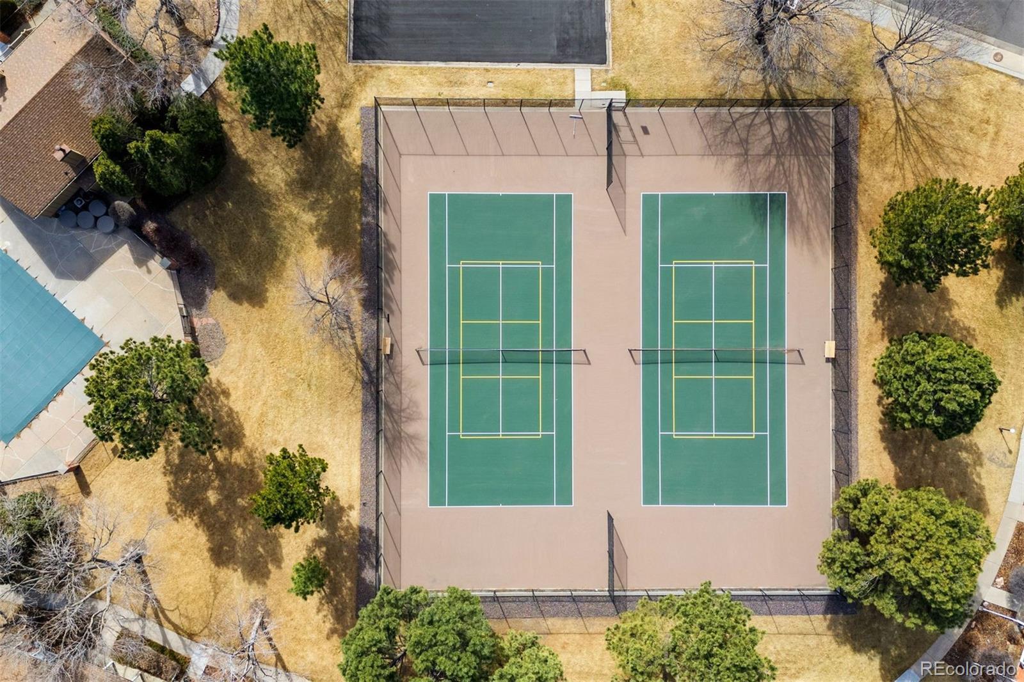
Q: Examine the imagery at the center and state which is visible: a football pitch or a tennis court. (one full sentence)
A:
You can see a tennis court at the center.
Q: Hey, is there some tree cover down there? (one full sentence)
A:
Yes, there's tree cover in this view.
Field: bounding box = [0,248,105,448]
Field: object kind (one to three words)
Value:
swimming pool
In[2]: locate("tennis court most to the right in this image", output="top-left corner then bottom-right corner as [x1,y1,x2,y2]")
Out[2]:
[641,192,787,507]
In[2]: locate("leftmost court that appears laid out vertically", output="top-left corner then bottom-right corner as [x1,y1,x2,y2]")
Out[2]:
[428,193,573,507]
